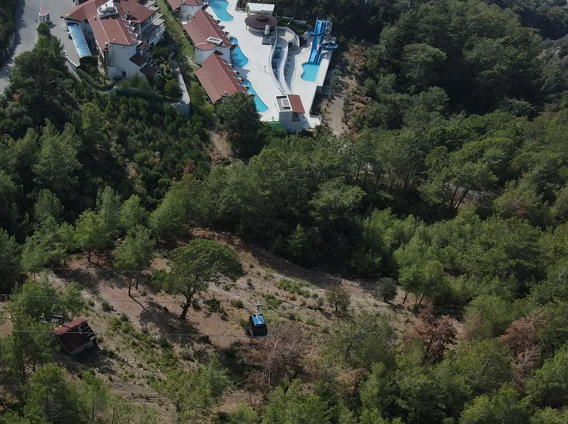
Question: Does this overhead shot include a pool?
Yes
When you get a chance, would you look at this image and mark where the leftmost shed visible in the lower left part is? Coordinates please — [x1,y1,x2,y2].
[54,317,95,356]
